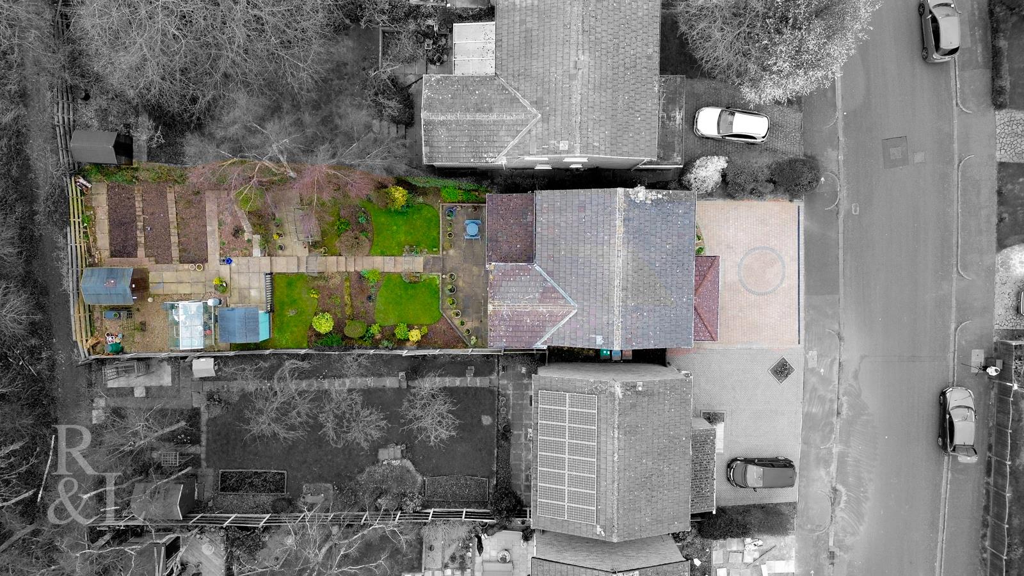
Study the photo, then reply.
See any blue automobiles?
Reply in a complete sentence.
No, there isn't any blue automobile down there.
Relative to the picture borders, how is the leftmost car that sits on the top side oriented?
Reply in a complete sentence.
The leftmost car that sits on the top side has been laid out horizontally relative to the frame.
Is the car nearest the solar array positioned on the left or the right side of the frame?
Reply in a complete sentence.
It is on the right.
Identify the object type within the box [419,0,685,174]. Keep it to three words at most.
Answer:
house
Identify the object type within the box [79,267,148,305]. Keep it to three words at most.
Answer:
shed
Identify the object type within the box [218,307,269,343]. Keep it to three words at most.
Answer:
shed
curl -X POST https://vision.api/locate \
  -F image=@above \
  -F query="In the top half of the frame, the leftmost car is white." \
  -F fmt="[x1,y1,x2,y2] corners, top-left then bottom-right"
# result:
[692,104,771,147]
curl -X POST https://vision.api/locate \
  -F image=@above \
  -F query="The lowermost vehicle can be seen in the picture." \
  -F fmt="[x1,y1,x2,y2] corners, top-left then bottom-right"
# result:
[725,456,797,494]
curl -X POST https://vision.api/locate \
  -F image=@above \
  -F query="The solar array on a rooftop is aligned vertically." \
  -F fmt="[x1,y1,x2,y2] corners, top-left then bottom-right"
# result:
[539,390,596,524]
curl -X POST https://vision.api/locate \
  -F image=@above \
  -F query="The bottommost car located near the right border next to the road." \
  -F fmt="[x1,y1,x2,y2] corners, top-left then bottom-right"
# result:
[933,388,978,467]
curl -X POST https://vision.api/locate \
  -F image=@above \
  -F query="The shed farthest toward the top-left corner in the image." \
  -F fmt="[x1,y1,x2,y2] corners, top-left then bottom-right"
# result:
[67,131,132,169]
